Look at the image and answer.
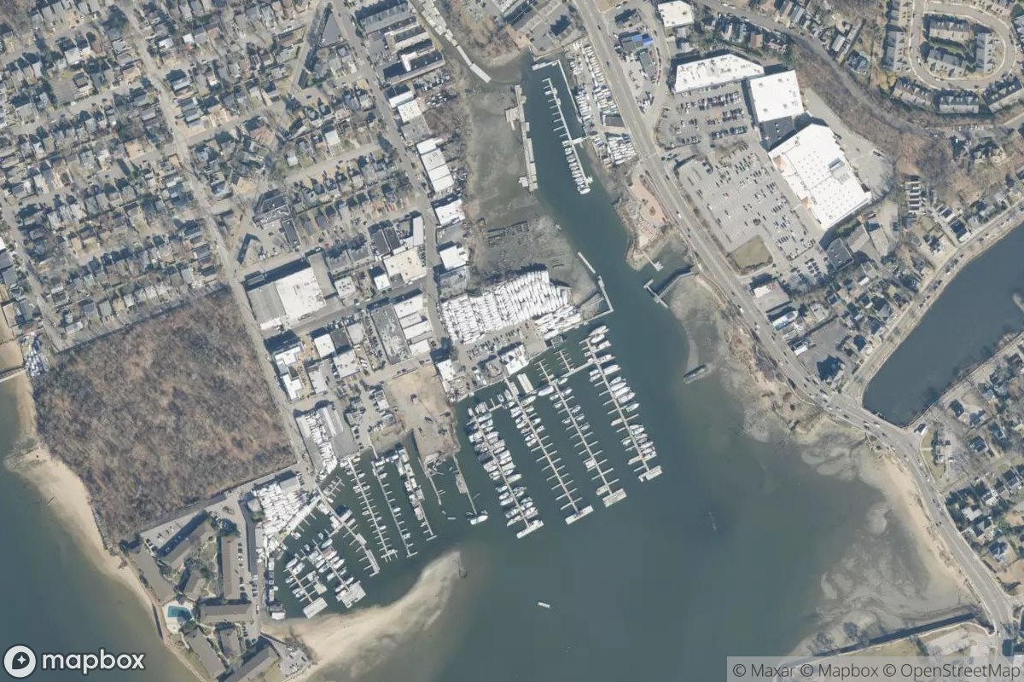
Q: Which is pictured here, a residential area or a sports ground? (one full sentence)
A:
It's a residential area.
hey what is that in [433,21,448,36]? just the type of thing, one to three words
ship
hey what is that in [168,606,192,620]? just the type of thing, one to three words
swimming pool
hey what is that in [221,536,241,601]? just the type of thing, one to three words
building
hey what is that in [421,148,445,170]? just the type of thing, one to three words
building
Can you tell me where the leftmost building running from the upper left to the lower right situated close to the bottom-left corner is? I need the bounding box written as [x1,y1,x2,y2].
[132,545,176,605]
